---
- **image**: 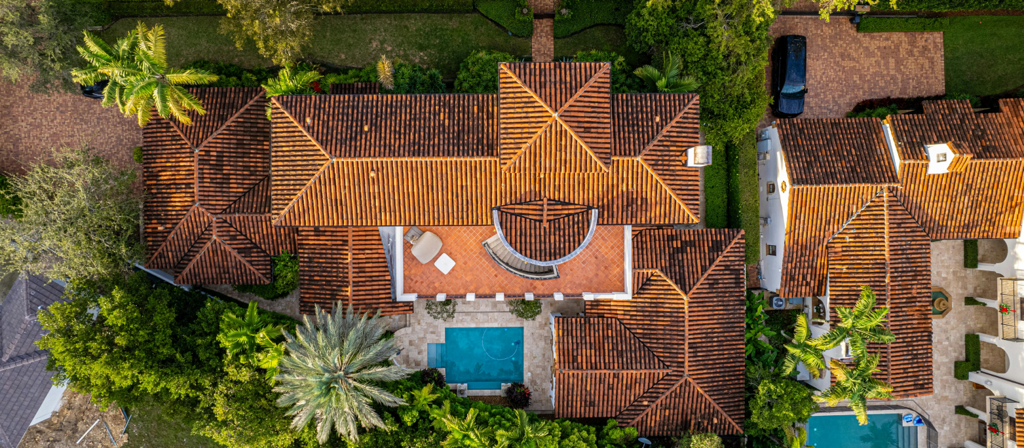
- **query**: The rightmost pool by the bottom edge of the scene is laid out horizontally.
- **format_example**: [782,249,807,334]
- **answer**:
[799,404,919,448]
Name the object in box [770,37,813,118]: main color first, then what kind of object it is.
black car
